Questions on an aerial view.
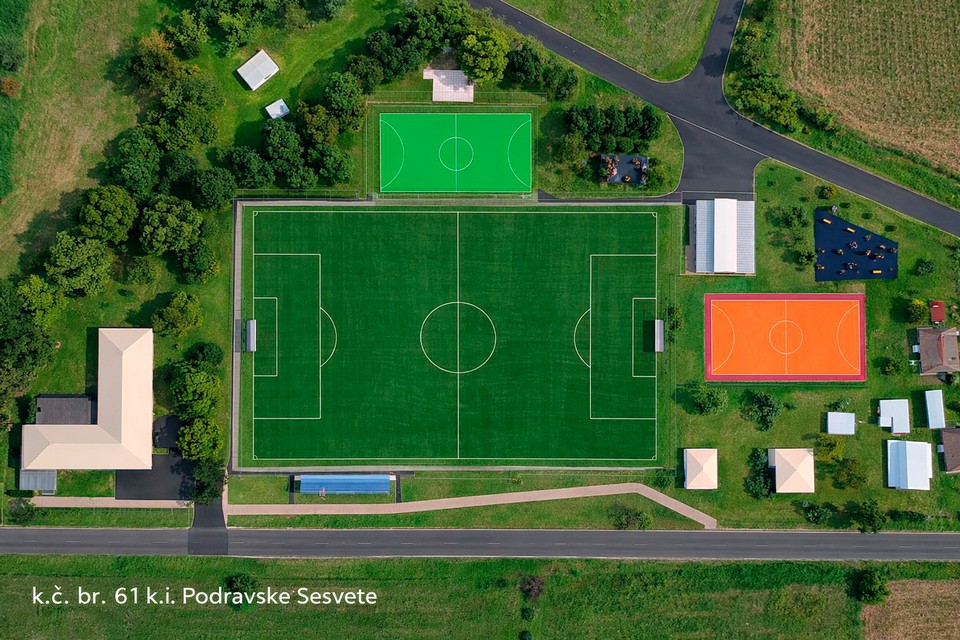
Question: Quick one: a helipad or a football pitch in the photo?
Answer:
football pitch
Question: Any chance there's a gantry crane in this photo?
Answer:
No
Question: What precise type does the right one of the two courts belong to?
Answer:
basketball court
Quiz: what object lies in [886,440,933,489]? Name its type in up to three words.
barn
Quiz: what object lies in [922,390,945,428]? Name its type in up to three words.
building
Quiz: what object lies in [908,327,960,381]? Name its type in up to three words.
house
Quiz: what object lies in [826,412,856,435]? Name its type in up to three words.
shed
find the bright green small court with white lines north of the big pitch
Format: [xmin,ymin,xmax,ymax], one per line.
[373,104,537,198]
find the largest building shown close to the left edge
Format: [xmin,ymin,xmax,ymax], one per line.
[22,328,154,469]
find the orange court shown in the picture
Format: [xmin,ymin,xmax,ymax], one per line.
[704,293,866,381]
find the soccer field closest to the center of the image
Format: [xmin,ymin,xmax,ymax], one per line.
[240,206,675,468]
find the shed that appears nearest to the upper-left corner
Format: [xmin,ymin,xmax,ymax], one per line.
[237,50,279,91]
